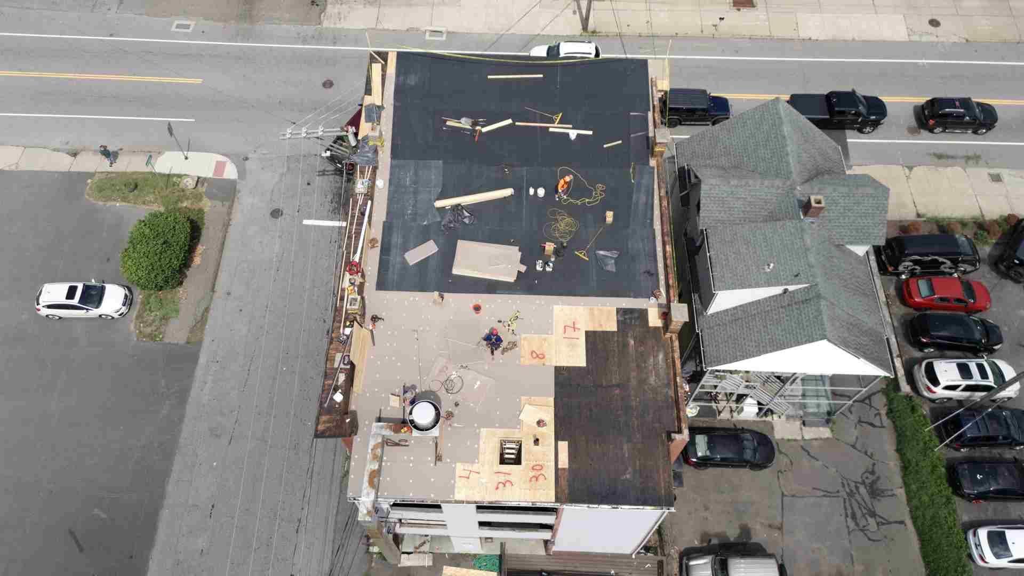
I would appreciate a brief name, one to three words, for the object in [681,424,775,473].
car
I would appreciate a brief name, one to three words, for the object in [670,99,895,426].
house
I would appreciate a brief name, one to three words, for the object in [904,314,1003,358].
car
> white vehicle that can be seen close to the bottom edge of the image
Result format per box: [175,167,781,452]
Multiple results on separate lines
[963,523,1024,572]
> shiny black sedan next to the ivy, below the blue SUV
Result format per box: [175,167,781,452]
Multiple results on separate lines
[946,456,1024,505]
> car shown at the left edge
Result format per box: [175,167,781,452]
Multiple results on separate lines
[33,281,139,324]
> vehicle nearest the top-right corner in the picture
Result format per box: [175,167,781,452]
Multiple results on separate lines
[918,95,998,138]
